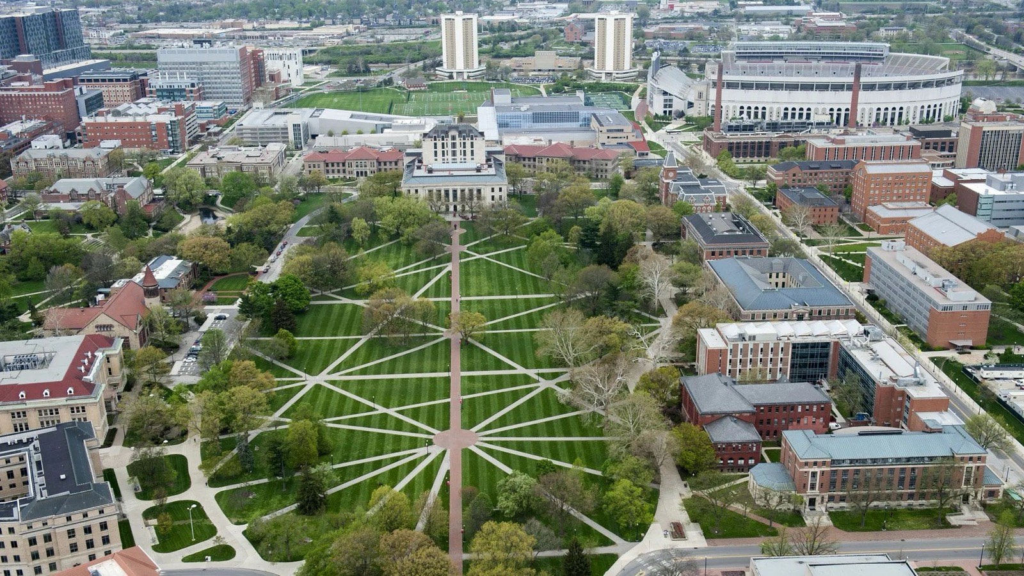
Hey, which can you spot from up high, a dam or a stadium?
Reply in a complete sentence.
The image shows a stadium.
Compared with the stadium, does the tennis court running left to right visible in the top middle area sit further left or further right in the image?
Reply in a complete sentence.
Relative to the stadium, the tennis court running left to right visible in the top middle area is on the left.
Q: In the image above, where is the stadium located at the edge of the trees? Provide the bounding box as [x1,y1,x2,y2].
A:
[645,41,967,126]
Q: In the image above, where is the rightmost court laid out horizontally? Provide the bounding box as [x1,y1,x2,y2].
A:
[579,91,633,111]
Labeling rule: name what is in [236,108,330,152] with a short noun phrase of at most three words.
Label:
building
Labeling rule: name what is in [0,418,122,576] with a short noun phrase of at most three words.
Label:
building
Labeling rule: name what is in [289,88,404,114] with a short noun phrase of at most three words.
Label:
sports field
